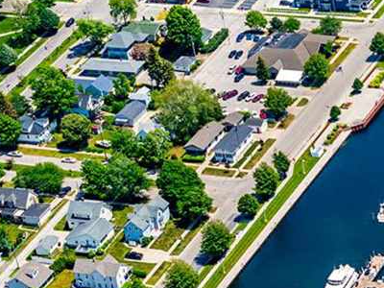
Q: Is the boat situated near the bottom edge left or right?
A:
right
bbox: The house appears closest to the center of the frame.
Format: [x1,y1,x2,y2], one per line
[186,120,227,158]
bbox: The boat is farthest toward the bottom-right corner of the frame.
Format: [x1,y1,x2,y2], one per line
[320,250,362,288]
